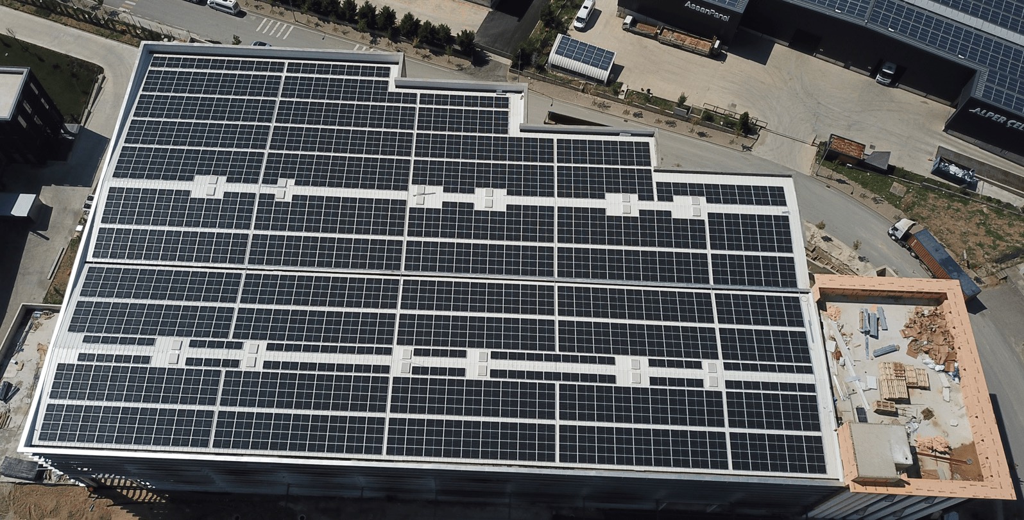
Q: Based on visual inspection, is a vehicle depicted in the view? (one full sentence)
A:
Yes, the frame does contain a vehicle.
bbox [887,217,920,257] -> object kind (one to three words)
vehicle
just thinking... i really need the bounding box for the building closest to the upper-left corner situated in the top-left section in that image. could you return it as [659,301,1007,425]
[0,67,64,168]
